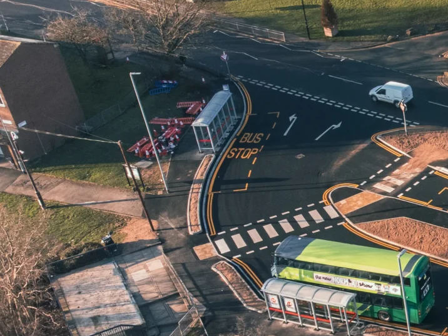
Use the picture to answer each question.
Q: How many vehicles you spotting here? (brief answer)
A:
2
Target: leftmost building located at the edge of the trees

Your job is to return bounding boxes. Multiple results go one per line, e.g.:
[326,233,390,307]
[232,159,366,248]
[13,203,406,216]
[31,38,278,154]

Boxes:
[0,29,82,167]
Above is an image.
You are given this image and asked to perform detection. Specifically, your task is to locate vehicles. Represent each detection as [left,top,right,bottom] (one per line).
[267,229,434,321]
[367,82,418,112]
